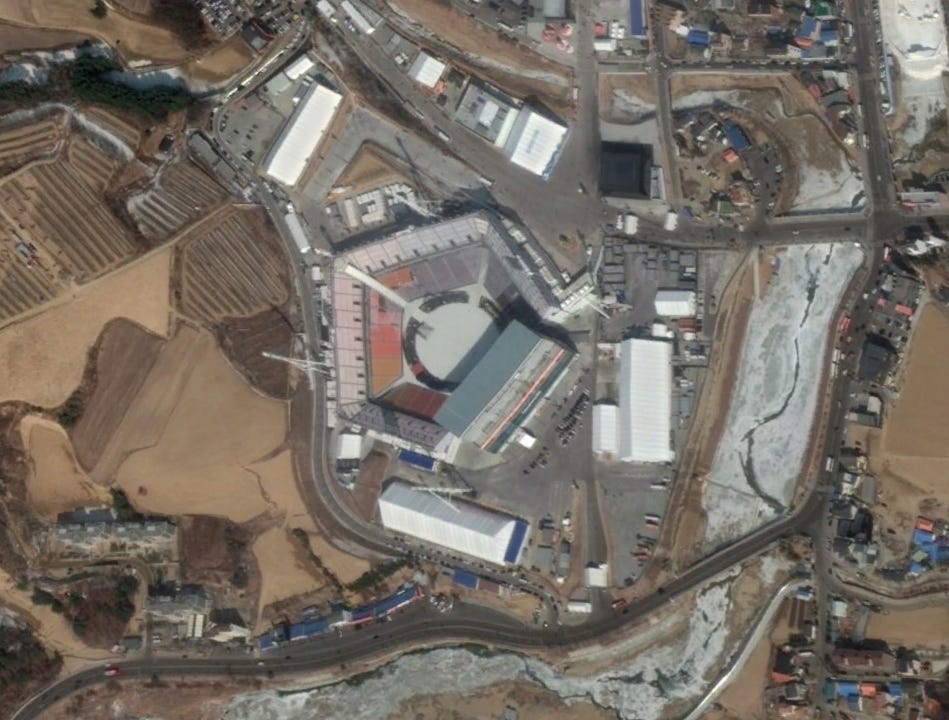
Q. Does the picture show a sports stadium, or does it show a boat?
sports stadium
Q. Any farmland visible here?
Yes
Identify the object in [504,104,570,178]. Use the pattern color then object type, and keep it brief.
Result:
white tent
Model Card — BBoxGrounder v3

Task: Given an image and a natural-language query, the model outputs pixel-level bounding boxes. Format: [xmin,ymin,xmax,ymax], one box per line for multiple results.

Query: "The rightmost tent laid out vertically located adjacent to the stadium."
[617,335,675,461]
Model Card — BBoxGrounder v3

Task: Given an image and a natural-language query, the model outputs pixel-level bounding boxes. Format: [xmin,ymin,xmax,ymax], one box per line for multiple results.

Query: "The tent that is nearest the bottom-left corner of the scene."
[381,484,533,566]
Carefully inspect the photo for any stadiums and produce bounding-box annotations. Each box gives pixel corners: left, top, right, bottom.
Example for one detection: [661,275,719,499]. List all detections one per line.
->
[334,212,576,457]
